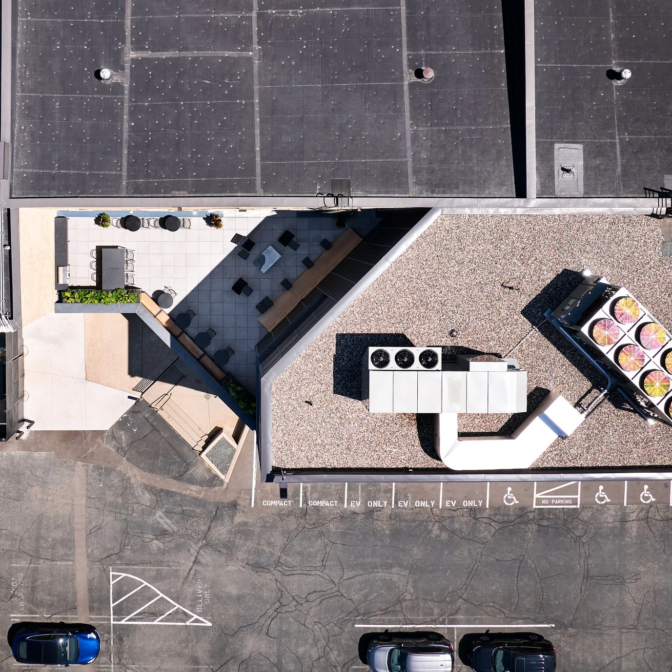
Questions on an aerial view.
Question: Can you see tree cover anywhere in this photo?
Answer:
No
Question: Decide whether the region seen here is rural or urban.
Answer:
urban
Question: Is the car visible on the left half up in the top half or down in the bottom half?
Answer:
bottom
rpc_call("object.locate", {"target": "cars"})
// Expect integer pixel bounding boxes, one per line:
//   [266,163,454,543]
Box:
[467,642,558,672]
[13,621,104,671]
[367,640,455,672]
